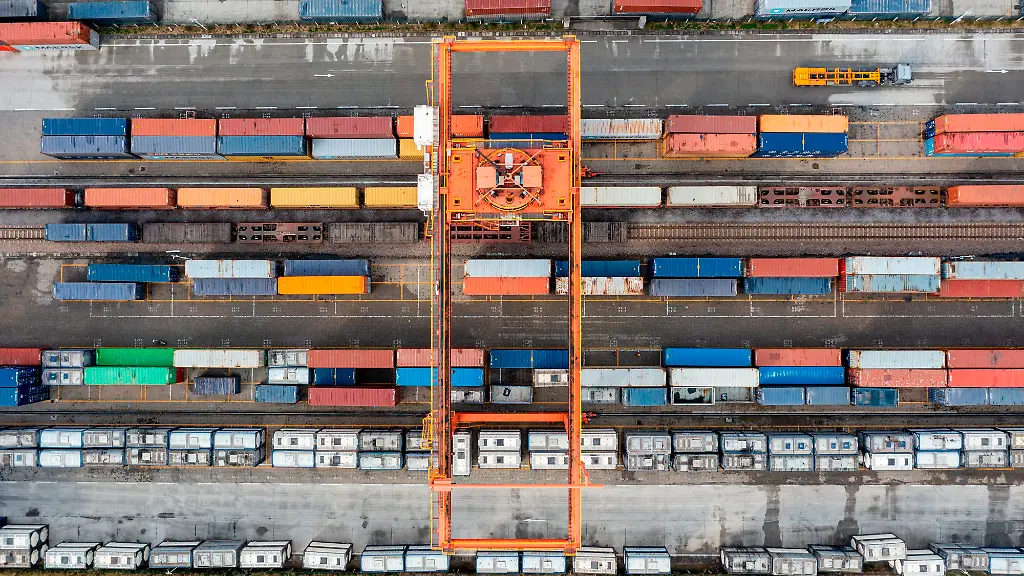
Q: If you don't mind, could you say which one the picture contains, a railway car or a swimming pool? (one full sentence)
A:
The one in the frame is a railway car.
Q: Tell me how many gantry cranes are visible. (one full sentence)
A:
In total, there is 1 gantry crane in the scene.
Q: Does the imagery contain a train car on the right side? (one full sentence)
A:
Yes, the scene does show a train car on the right side.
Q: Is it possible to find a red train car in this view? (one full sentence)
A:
Yes, there's a red train car here.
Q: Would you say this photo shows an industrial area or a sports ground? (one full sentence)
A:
What you see here is an industrial area.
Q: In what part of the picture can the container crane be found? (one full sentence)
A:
The container crane sits in the center section of the image.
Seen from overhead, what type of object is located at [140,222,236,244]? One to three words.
rail car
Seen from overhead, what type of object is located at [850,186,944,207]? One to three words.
rail car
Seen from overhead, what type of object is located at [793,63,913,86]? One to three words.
truck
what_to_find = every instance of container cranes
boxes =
[414,33,604,556]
